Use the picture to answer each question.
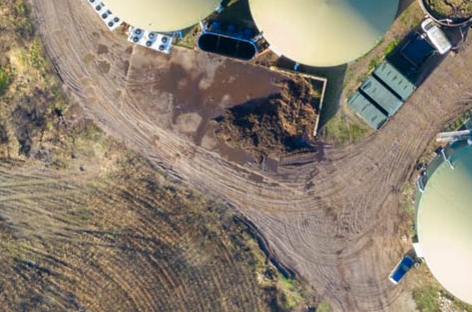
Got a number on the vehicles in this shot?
2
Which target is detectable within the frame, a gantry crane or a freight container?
freight container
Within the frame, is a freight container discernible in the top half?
Yes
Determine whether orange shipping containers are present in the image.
No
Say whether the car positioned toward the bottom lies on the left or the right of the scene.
right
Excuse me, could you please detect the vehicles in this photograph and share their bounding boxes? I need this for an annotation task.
[417,18,453,56]
[387,252,414,283]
